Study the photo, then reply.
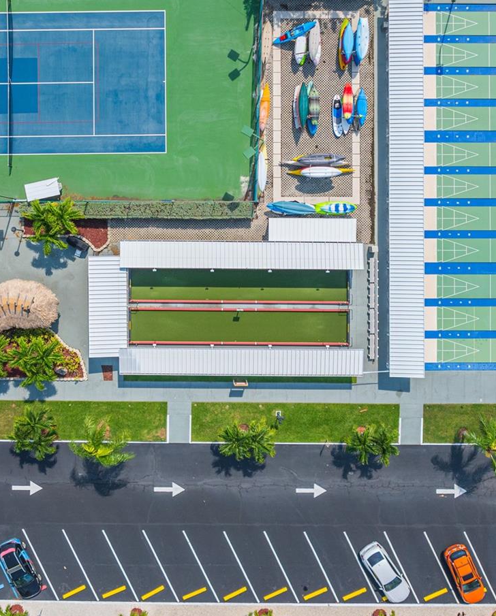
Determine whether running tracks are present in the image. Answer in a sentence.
No, this view has no running track in it.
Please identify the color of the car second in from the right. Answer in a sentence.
From above, the car second in from the right appears white.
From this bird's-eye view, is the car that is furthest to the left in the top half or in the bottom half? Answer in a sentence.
The bottom half of the photo is where the car that is furthest to the left is.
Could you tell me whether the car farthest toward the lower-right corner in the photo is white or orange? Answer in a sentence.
The car farthest toward the lower-right corner is orange.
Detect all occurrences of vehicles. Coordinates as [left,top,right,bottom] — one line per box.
[445,544,484,599]
[361,542,407,600]
[0,539,44,595]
